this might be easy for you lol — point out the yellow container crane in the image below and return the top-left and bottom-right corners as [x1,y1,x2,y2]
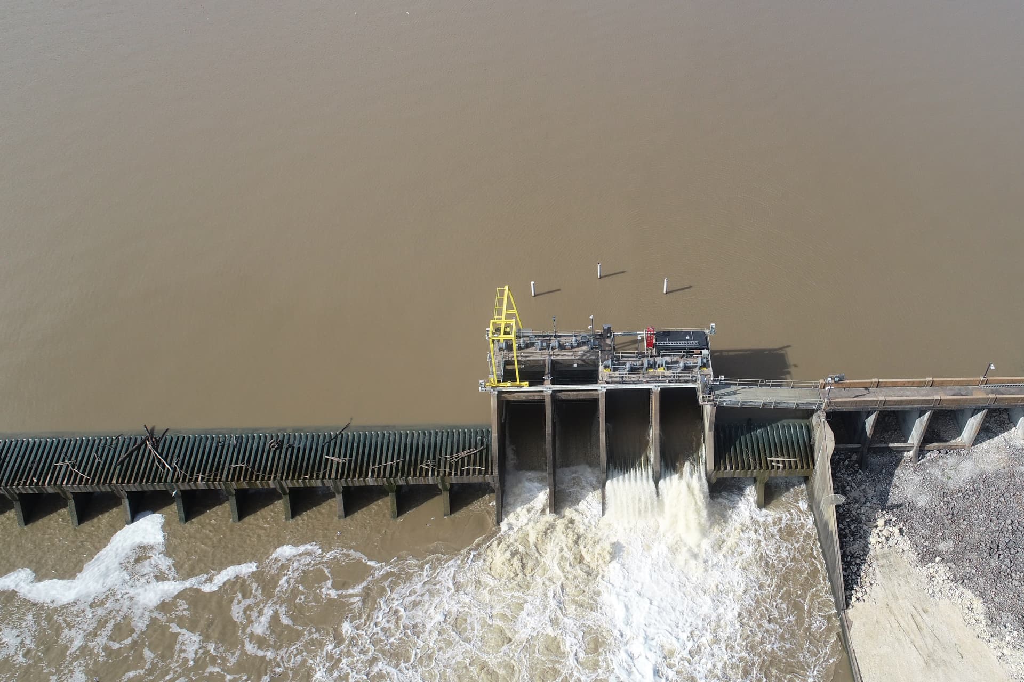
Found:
[483,286,529,389]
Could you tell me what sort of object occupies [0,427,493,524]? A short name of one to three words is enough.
dam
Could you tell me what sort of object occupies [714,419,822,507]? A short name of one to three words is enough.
dam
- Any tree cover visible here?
No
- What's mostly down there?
water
